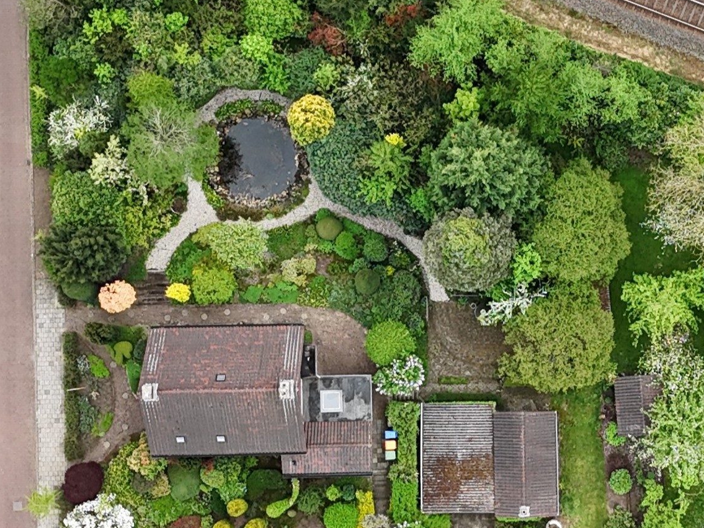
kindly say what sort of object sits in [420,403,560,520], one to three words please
building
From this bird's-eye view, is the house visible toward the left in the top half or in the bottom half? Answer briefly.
bottom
